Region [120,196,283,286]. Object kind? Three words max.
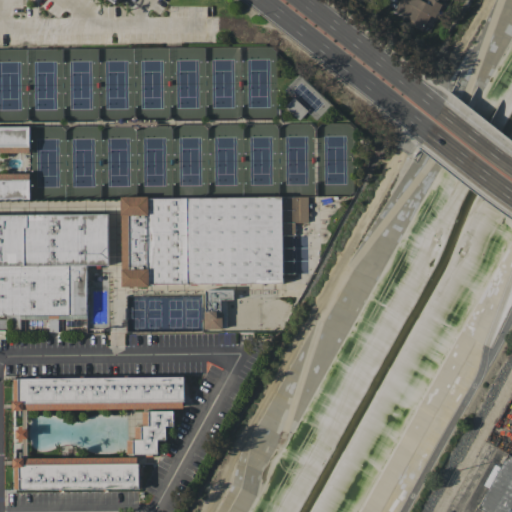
building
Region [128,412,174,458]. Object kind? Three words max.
building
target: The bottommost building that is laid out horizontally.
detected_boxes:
[11,458,140,492]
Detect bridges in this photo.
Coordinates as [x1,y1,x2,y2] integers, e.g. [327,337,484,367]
[422,88,512,218]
